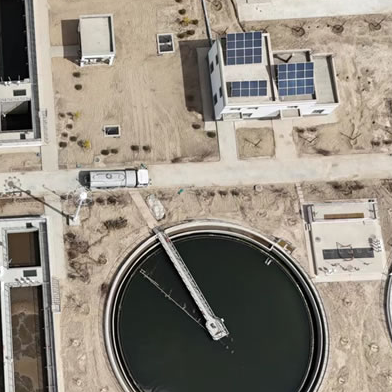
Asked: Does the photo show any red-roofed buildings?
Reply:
No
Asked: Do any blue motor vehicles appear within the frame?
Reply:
No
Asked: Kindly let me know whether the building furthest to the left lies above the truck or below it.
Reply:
above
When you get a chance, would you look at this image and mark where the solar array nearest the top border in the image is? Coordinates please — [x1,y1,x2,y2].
[225,33,264,65]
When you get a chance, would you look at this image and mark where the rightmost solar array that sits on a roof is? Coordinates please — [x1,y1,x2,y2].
[277,65,316,96]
